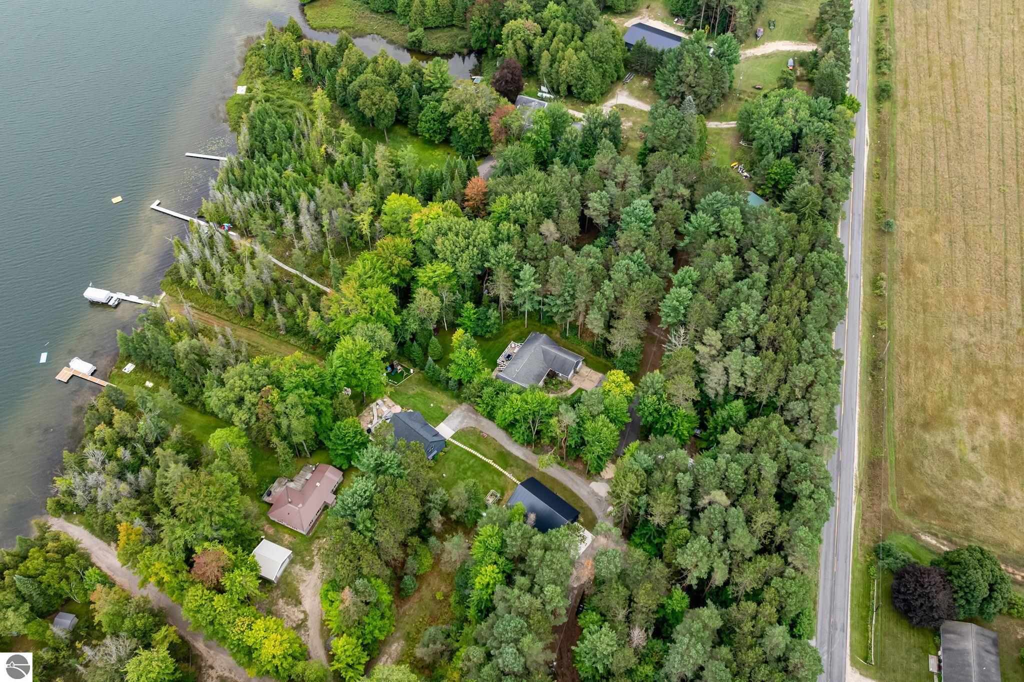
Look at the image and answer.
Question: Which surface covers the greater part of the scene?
trees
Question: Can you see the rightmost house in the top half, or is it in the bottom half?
bottom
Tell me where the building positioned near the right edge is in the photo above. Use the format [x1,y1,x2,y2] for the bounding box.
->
[937,625,1002,682]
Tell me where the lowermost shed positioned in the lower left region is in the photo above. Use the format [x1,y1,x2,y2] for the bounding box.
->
[52,611,79,633]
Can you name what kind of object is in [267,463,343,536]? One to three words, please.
house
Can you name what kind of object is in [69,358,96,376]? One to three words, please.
boat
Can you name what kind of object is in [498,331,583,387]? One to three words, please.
house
